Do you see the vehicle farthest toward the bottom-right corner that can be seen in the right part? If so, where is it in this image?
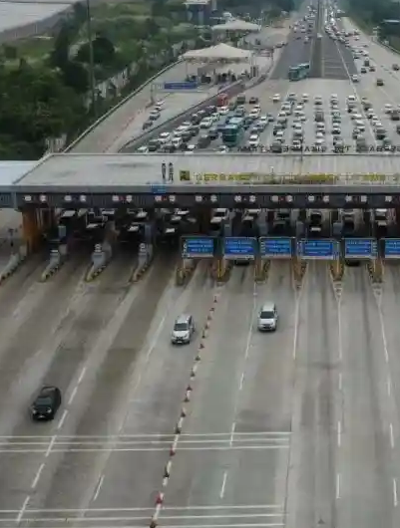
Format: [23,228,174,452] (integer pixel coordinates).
[257,302,279,331]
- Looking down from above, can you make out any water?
No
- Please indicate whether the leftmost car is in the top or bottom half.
bottom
